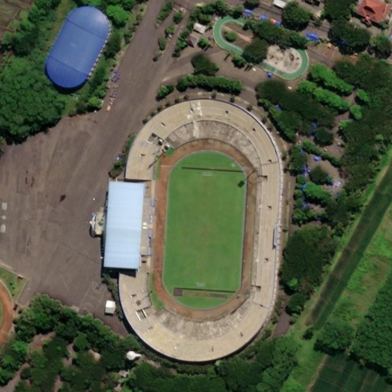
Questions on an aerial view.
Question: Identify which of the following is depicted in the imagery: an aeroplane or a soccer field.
soccer field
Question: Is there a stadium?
Yes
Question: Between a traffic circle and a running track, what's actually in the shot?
running track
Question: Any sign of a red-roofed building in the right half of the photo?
Yes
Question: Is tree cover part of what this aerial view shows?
Yes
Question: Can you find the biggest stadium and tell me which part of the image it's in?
center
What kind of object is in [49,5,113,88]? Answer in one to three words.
building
